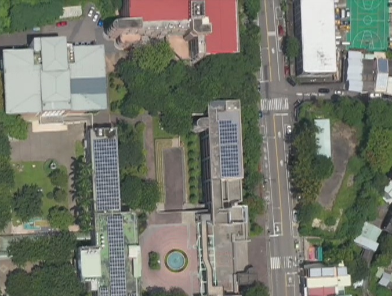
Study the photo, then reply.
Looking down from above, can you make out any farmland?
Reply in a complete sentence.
No, the scene doesn't show any farmland.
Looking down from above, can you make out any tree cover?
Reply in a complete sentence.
Yes, the picture does contain tree cover.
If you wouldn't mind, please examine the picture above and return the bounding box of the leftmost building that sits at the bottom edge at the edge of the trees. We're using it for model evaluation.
[74,211,141,296]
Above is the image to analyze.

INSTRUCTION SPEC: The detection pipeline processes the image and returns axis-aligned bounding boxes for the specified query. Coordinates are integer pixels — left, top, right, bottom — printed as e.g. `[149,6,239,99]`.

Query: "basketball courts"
[346,0,389,50]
